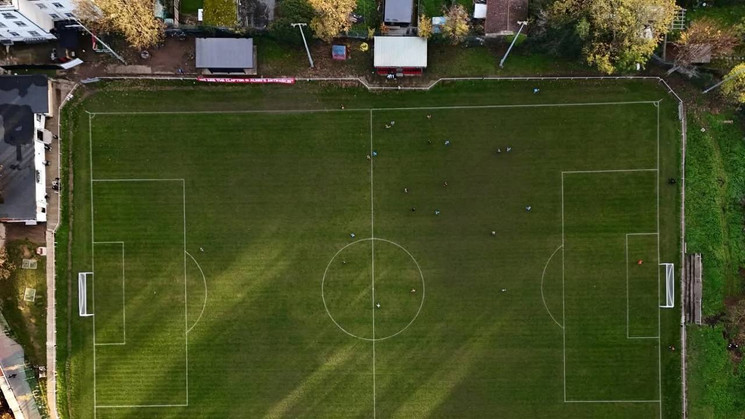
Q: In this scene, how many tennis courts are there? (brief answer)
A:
zero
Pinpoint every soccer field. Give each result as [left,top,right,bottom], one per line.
[59,84,682,419]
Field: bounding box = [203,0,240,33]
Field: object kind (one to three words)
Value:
shed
